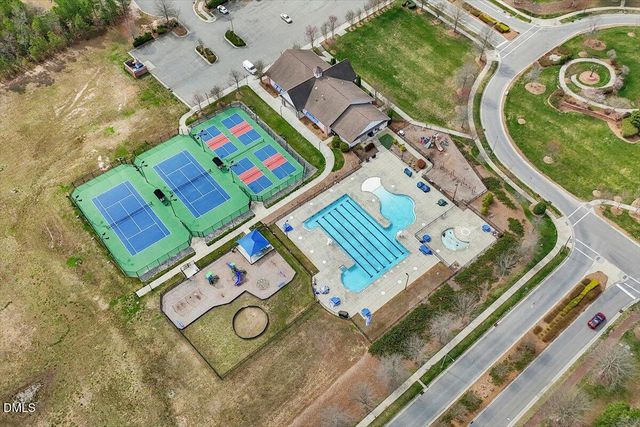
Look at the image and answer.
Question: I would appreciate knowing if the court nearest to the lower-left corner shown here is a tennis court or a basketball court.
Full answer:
It turns out the court nearest to the lower-left corner is a tennis court.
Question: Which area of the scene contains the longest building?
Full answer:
The longest building appears toward the top of the photo.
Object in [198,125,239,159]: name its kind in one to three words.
sports court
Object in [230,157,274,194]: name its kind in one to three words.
sports court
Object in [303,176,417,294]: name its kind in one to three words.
swimming pool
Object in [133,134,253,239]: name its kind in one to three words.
tennis court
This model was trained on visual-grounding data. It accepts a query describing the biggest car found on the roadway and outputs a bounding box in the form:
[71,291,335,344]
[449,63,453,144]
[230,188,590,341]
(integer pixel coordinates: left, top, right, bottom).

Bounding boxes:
[589,312,608,328]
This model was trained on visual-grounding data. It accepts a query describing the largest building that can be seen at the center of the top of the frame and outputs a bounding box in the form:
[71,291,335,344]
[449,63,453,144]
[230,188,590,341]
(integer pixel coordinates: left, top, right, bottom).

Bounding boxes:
[266,49,391,148]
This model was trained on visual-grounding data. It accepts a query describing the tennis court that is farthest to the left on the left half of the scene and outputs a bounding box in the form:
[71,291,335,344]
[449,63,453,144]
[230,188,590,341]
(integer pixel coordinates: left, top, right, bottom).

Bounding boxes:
[71,163,192,278]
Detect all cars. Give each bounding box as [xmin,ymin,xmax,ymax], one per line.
[281,13,291,21]
[243,61,255,73]
[217,4,228,13]
[589,312,608,328]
